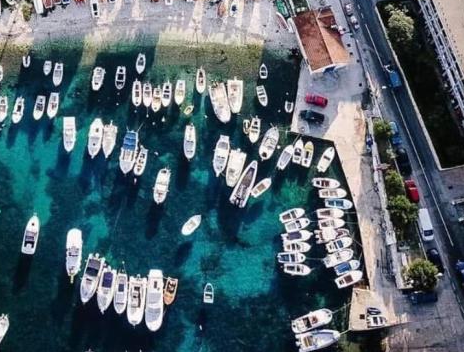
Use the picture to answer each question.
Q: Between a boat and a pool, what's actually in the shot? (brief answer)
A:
boat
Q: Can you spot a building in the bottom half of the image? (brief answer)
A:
No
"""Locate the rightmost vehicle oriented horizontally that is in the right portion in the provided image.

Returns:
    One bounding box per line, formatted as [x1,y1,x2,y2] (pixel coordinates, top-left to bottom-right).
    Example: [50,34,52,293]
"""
[409,288,439,303]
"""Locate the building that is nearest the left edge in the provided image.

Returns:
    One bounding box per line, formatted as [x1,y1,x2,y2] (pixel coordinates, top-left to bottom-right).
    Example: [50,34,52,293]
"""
[291,7,349,77]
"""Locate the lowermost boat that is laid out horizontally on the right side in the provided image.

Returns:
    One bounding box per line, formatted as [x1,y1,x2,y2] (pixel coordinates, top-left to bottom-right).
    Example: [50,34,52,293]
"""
[292,330,339,352]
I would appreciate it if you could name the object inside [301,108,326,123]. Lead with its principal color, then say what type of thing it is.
black car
